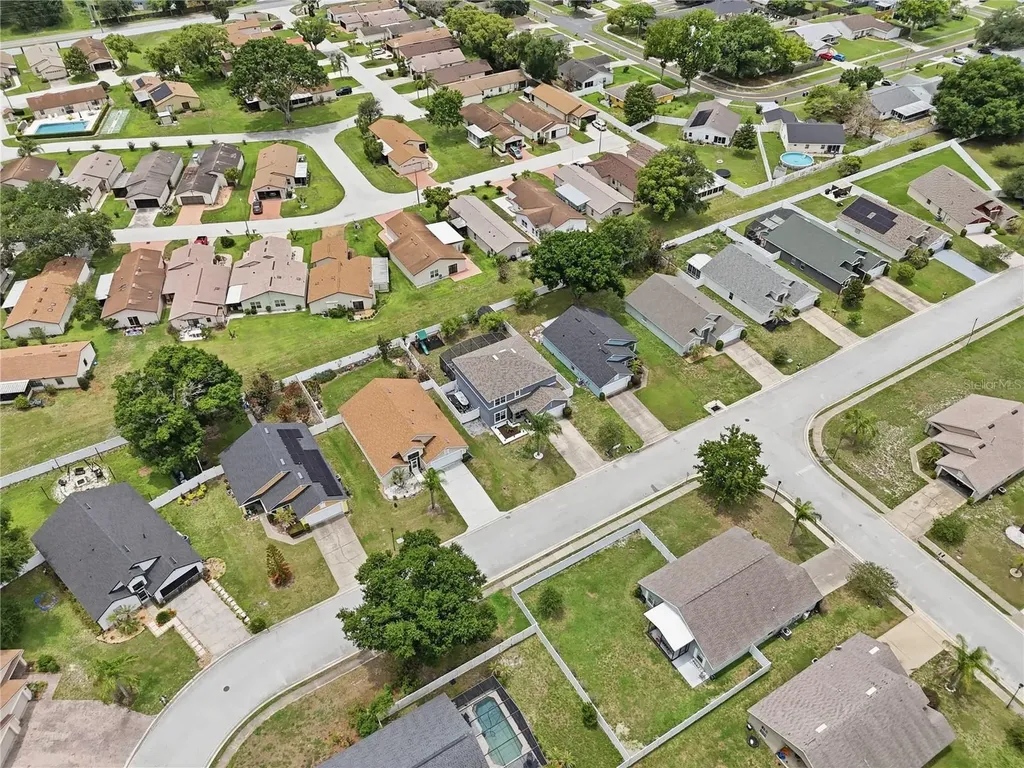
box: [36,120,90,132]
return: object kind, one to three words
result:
swimming pool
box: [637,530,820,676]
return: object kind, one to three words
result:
house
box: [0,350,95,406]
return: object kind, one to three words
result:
house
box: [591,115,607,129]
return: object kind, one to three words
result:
car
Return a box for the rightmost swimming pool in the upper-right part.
[781,151,815,172]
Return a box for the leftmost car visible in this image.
[195,232,208,248]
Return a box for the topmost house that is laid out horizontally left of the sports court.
[29,86,107,121]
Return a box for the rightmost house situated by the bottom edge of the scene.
[741,637,957,768]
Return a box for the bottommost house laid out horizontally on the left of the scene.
[311,693,493,768]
